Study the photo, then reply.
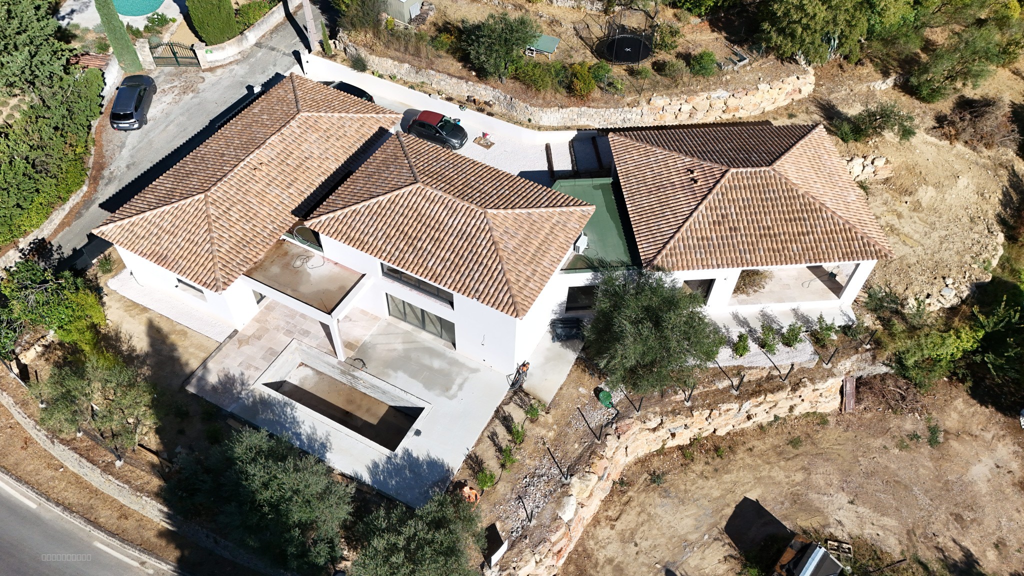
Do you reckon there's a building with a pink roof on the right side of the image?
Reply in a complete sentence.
No, looking on the right side of the image, there is no building with a pink roof.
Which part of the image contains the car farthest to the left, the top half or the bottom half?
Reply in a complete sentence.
Seen from above, the car farthest to the left lies in the top half of the view.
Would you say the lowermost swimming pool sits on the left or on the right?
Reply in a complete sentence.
You can find the lowermost swimming pool on the left side of the picture.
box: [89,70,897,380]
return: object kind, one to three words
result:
house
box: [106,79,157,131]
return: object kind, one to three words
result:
car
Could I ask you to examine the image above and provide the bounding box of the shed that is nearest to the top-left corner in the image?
[70,53,124,90]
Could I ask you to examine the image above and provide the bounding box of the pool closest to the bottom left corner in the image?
[253,339,431,459]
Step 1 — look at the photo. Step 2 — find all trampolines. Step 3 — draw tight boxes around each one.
[594,0,659,71]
